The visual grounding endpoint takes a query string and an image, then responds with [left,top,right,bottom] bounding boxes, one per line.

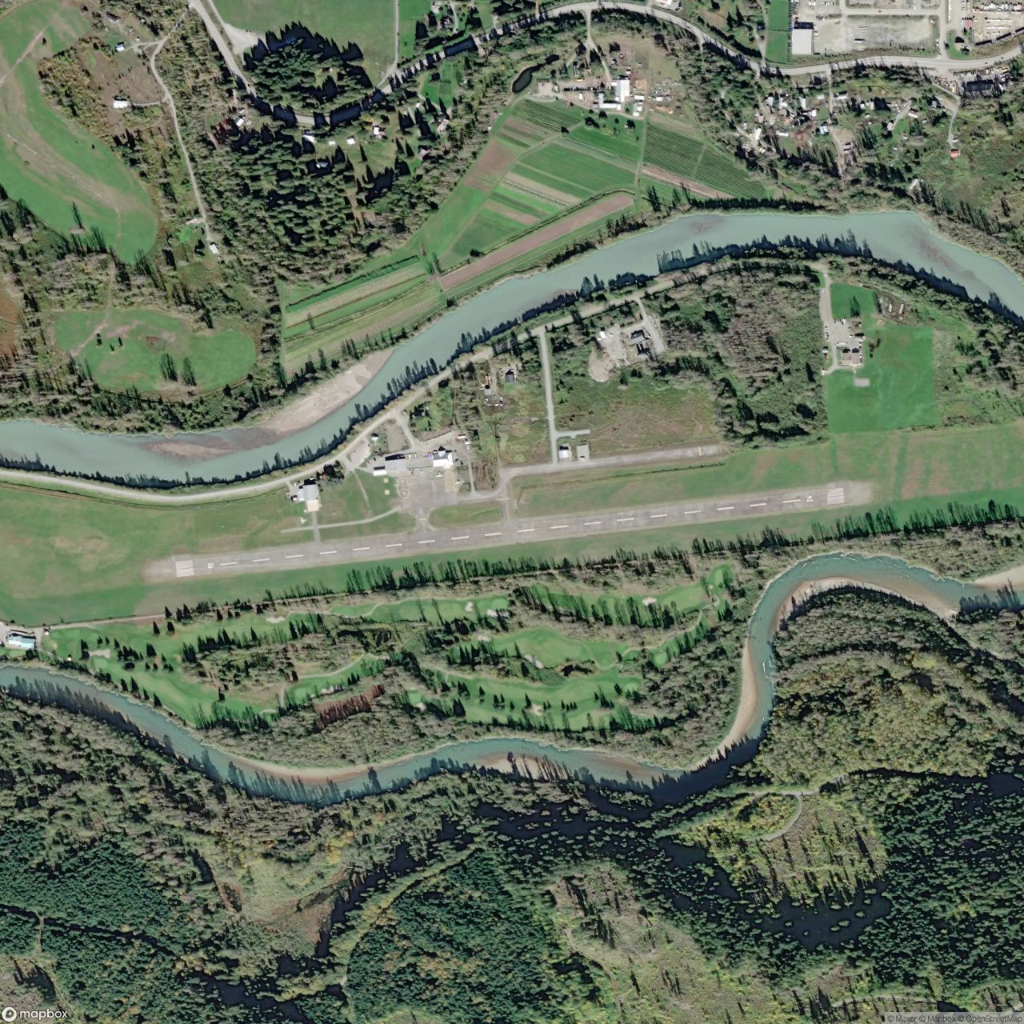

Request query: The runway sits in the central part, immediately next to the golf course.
[173,483,846,579]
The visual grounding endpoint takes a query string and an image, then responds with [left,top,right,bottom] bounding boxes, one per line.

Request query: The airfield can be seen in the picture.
[172,445,855,581]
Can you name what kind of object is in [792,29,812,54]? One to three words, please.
building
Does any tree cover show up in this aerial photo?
Yes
